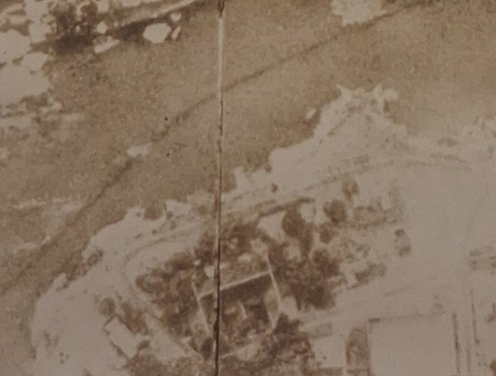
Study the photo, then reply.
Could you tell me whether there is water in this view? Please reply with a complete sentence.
Yes, there's water in this view.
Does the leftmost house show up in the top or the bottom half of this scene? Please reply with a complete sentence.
It is in the bottom half that the leftmost house appears.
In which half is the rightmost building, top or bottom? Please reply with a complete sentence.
The rightmost building is in the bottom half of the image.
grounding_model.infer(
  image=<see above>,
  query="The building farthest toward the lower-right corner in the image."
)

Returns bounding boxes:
[369,314,458,376]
